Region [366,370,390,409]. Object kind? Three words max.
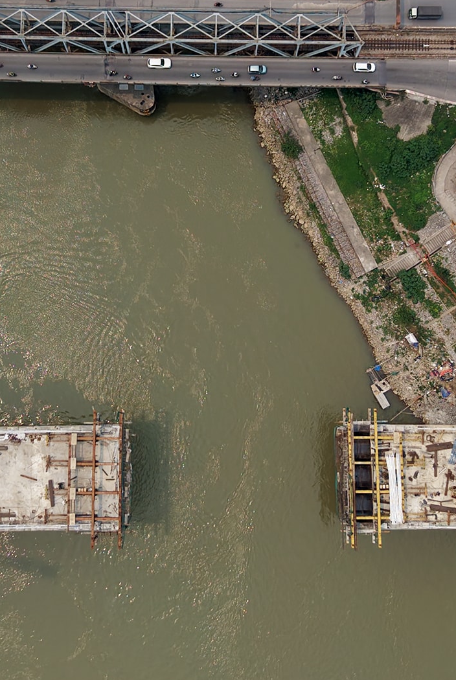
pier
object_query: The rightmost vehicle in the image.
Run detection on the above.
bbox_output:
[409,4,444,20]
